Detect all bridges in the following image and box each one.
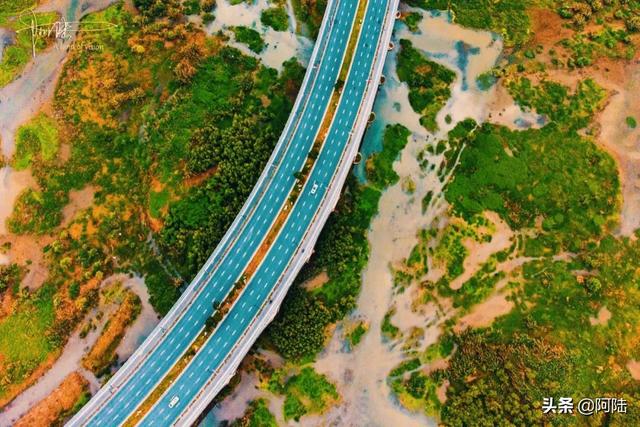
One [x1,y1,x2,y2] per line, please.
[64,0,399,427]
